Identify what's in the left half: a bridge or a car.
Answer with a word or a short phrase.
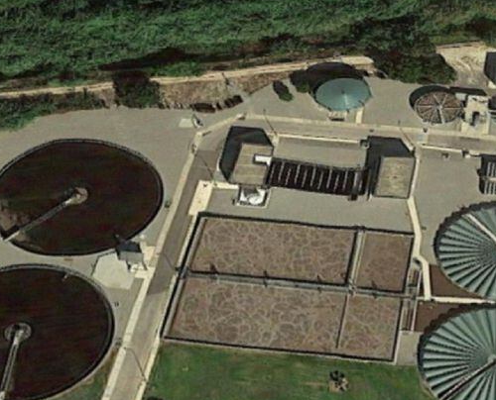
bridge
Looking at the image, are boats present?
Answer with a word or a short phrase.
No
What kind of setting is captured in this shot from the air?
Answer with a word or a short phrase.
industrial area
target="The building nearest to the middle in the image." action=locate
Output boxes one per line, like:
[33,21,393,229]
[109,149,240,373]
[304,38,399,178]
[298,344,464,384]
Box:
[229,142,273,198]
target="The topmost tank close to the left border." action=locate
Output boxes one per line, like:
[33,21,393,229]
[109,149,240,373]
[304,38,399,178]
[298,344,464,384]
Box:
[0,136,163,258]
